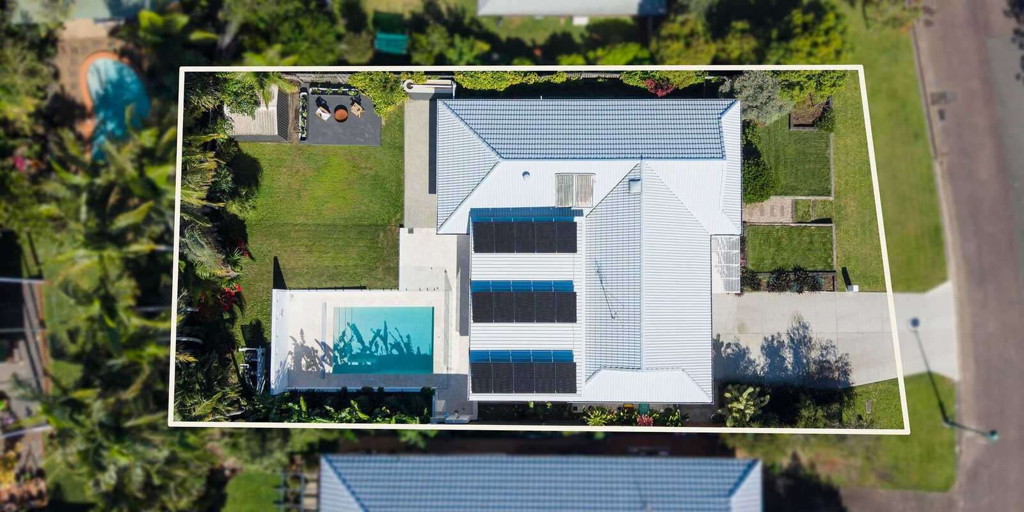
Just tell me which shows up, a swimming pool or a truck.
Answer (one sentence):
Looking from above, you can make out a swimming pool.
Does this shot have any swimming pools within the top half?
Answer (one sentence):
Yes, the scene does show a swimming pool within the top half.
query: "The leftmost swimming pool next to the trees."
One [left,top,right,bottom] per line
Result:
[77,51,152,167]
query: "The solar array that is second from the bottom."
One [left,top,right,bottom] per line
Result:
[474,288,577,323]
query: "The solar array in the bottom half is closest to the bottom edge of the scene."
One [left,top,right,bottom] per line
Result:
[474,357,577,393]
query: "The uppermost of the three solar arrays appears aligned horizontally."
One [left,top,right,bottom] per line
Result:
[474,219,577,253]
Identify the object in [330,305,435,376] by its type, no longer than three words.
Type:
swimming pool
